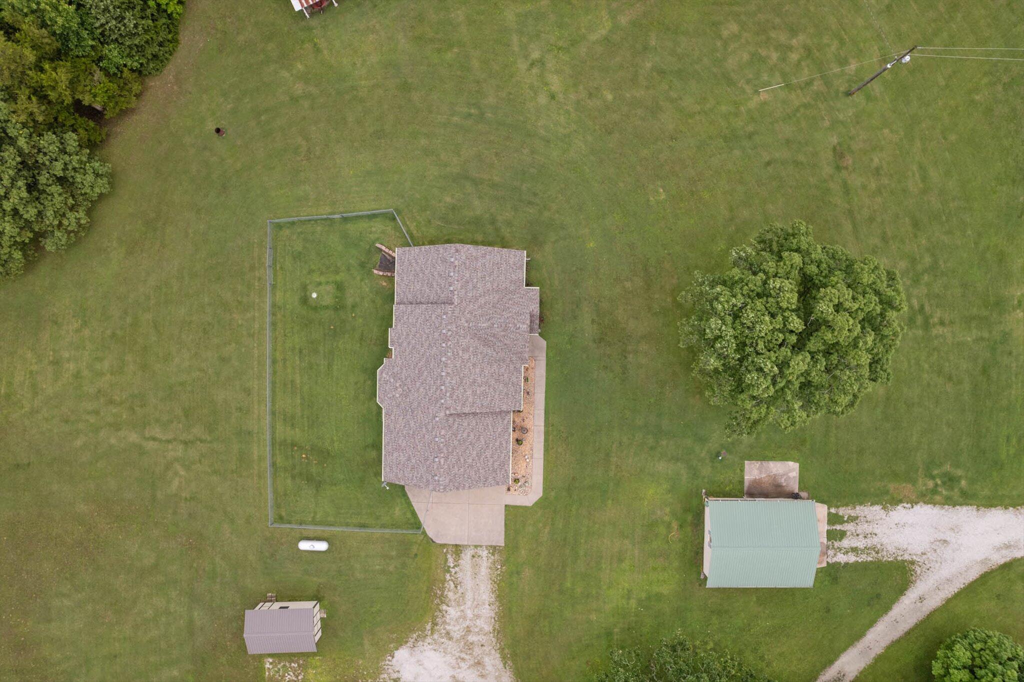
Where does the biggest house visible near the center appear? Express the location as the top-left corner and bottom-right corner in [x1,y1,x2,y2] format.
[376,244,540,492]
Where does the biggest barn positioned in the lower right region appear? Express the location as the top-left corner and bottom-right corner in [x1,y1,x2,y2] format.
[703,496,828,588]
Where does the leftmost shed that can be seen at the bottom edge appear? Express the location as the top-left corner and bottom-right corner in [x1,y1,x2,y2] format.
[243,601,322,654]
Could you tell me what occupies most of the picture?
grass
